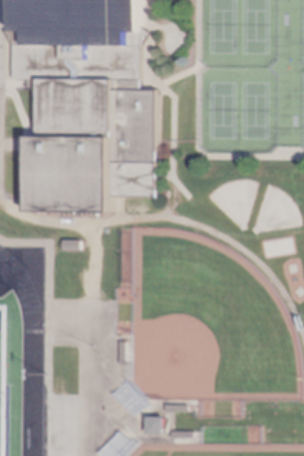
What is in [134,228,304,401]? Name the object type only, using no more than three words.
baseball field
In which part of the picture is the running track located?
bottom left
